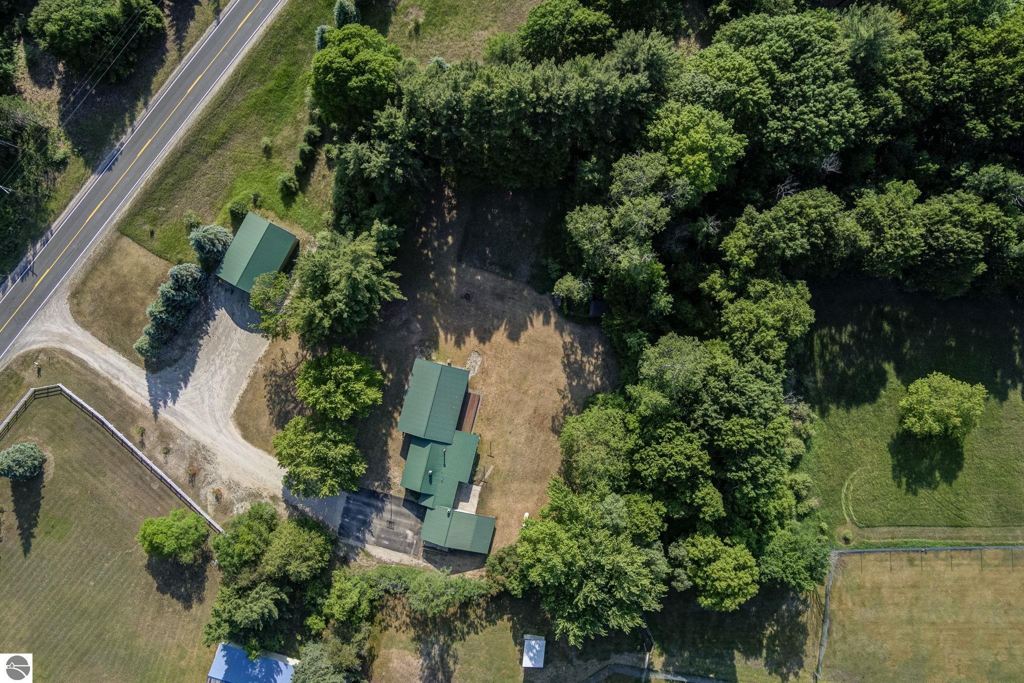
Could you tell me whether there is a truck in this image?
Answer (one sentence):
No, I find no truck anywhere in the image.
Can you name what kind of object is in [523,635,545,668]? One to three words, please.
shed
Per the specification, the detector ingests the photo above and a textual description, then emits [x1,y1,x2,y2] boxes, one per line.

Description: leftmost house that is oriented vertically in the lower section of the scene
[398,358,496,553]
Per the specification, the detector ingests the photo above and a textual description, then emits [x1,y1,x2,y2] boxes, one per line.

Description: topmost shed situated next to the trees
[216,211,298,298]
